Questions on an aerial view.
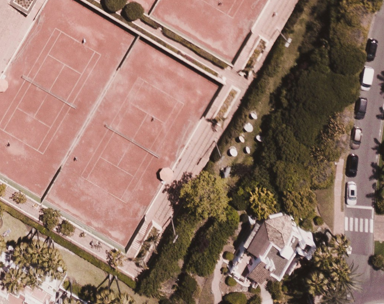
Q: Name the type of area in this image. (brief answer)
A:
sports ground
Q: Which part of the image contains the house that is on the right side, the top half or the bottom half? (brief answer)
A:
bottom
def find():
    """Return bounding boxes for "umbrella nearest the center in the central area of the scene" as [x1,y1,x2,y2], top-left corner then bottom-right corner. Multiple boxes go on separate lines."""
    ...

[160,167,173,181]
